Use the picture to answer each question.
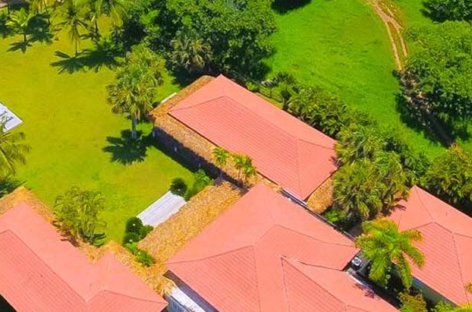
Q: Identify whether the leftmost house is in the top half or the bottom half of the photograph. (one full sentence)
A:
It is in the bottom half that the leftmost house appears.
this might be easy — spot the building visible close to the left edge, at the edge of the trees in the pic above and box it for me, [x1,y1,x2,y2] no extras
[0,197,178,312]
